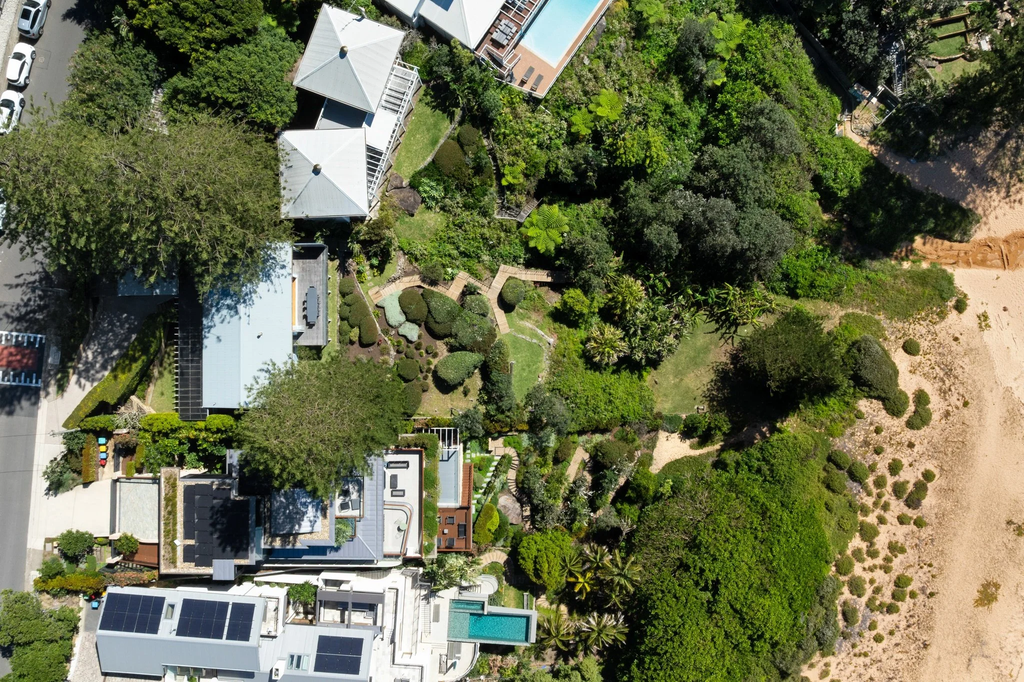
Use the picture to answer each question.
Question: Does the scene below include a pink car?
No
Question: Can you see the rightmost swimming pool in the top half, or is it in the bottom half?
top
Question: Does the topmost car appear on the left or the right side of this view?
left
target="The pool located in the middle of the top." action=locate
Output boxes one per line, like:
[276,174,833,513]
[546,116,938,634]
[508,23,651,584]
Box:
[521,0,599,68]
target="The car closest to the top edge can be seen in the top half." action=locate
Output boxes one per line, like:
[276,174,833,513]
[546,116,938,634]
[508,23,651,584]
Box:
[19,0,53,40]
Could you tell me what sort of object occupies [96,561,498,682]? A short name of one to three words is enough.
house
